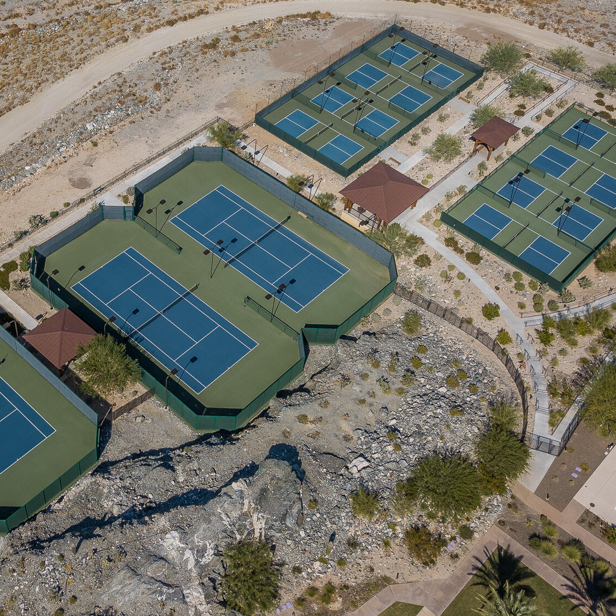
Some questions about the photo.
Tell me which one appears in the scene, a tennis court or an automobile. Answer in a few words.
tennis court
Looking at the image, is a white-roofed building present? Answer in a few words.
No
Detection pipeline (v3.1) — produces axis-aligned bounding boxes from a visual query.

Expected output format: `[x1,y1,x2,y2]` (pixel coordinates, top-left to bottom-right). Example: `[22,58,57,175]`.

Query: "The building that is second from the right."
[339,160,430,229]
